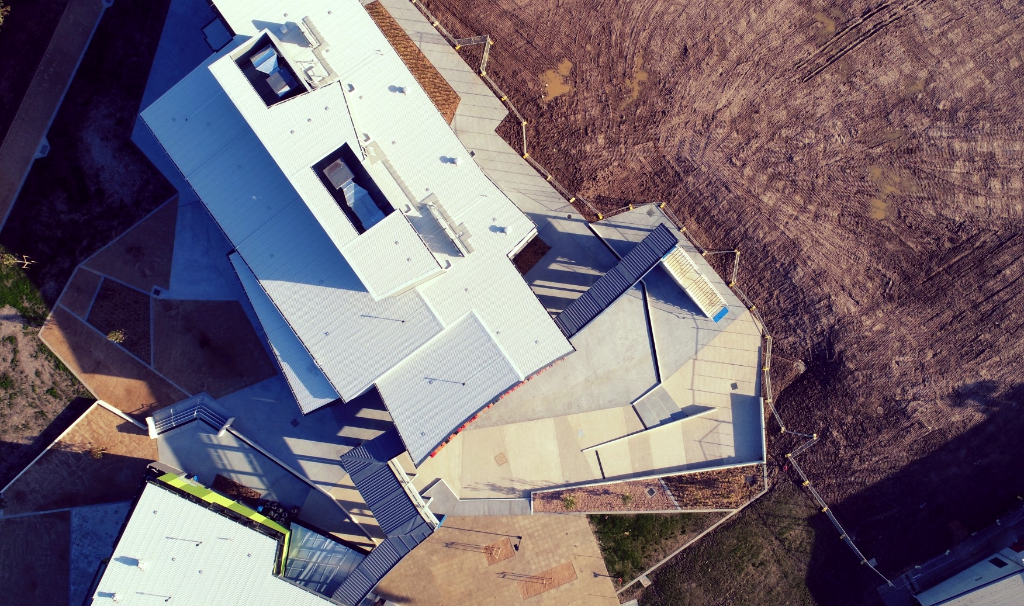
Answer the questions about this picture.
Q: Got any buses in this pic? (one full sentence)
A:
No, there appears to be no bus in this shot.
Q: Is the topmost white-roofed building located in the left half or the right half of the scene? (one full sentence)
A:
It is on the left.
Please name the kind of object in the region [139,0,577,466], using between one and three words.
building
